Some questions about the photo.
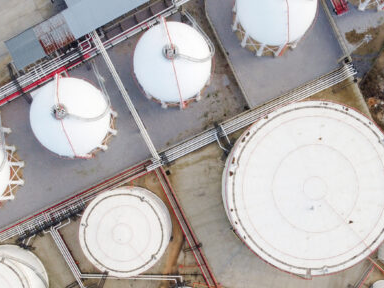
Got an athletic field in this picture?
No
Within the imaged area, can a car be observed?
No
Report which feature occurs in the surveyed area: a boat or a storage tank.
storage tank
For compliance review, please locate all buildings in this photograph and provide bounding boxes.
[59,0,153,45]
[5,28,48,73]
[33,10,77,59]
